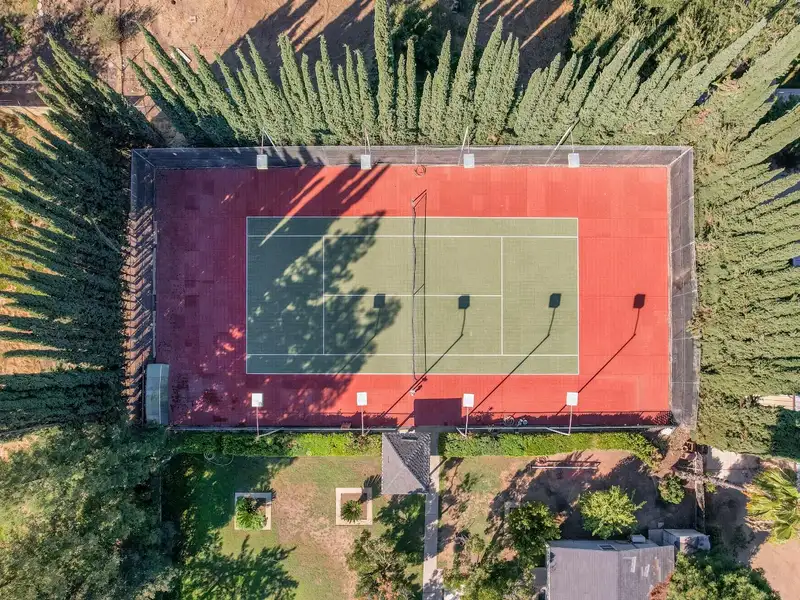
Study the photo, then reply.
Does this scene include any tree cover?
Yes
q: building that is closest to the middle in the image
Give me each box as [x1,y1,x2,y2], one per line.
[382,432,436,495]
